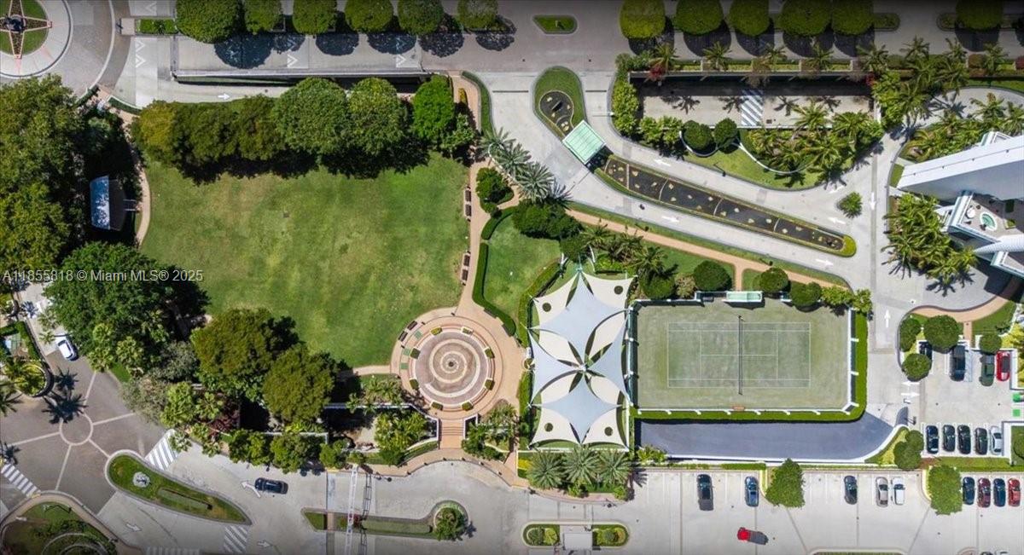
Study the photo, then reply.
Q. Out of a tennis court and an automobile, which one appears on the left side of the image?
automobile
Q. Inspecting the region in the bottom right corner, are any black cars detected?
Yes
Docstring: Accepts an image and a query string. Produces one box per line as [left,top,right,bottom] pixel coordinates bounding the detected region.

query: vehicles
[1010,390,1024,405]
[994,351,1011,380]
[923,424,940,454]
[843,474,859,504]
[256,478,286,494]
[1005,477,1022,506]
[979,354,995,383]
[975,477,993,507]
[697,475,712,511]
[988,425,1003,455]
[890,476,906,505]
[955,424,972,454]
[996,544,1012,555]
[972,426,989,455]
[960,475,977,505]
[990,477,1008,507]
[918,338,934,367]
[940,423,957,453]
[736,527,769,546]
[874,476,889,506]
[744,476,759,506]
[948,346,967,379]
